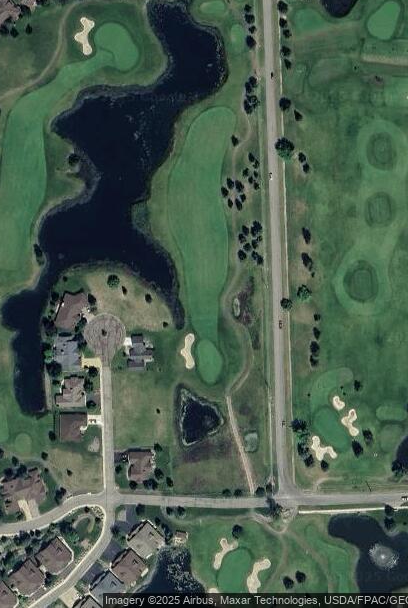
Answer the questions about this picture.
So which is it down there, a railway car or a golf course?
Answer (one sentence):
The one in the frame is a golf course.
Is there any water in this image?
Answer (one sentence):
Yes, water can be seen from above here.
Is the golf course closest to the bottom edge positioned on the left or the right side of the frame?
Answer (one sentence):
You can find the golf course closest to the bottom edge on the right side of the picture.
